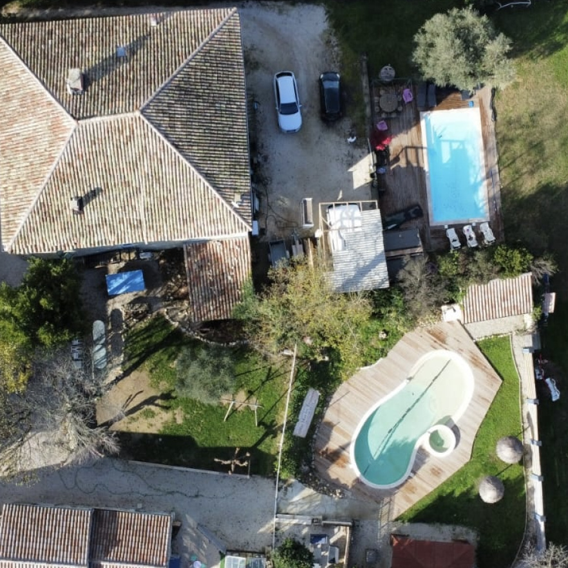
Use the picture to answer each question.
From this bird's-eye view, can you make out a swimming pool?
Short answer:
Yes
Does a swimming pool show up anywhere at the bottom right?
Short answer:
Yes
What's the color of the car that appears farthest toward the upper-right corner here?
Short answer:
black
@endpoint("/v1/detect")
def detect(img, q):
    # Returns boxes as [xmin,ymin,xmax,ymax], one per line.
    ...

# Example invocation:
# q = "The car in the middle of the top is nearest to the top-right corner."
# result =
[317,71,344,123]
